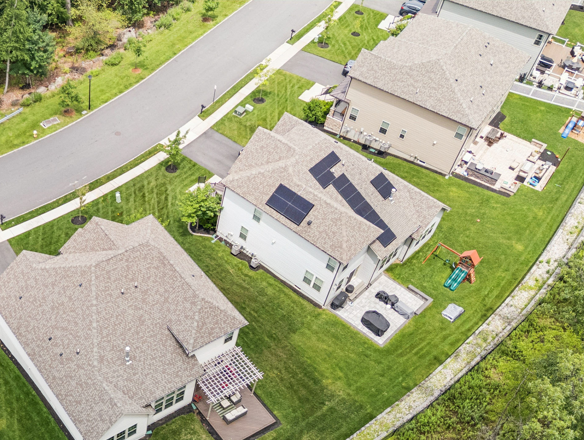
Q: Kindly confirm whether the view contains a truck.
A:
No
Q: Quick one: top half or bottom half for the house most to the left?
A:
bottom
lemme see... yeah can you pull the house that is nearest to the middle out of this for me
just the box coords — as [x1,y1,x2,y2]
[205,114,459,306]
